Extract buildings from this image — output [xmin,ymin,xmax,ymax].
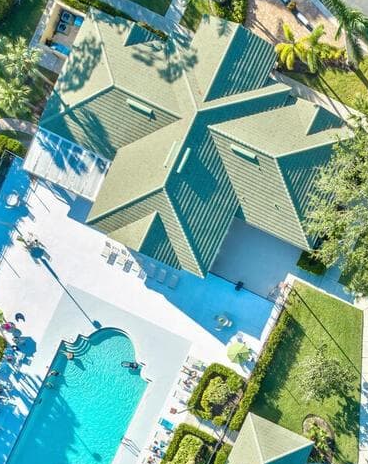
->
[39,8,355,277]
[226,411,314,464]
